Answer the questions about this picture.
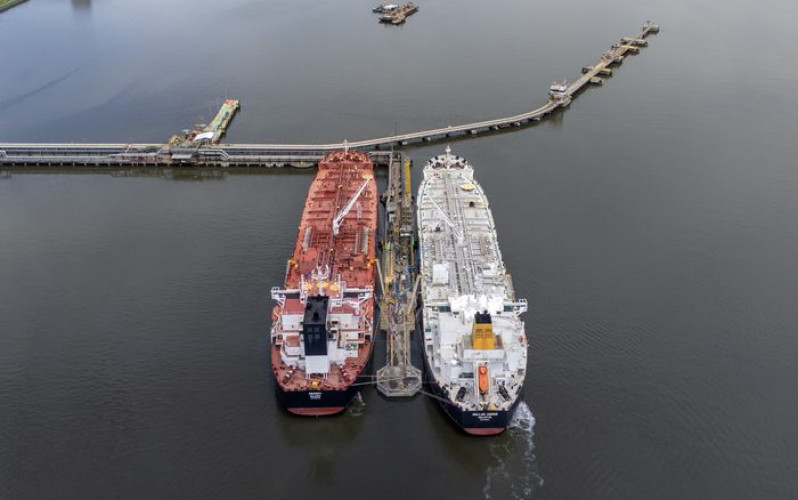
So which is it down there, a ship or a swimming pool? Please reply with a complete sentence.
The image shows a ship.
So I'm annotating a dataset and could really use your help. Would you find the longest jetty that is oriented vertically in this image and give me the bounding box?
[376,150,420,393]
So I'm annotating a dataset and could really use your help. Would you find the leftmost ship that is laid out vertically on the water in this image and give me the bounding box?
[267,141,377,417]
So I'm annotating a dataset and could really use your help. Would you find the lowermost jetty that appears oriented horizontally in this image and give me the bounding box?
[0,135,389,168]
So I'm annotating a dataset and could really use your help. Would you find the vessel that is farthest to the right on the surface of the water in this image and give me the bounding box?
[418,146,531,437]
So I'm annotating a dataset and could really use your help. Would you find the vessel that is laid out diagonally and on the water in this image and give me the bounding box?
[392,0,420,25]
